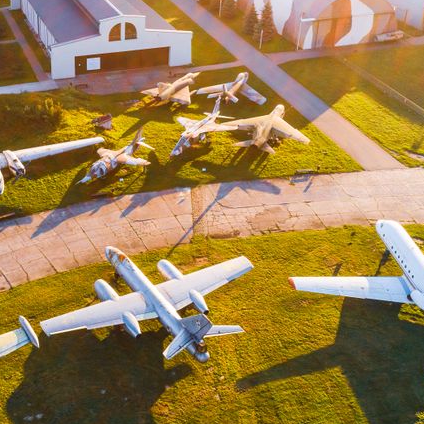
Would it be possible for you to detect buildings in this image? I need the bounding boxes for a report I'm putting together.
[13,0,195,79]
[236,0,415,50]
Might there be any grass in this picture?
Yes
